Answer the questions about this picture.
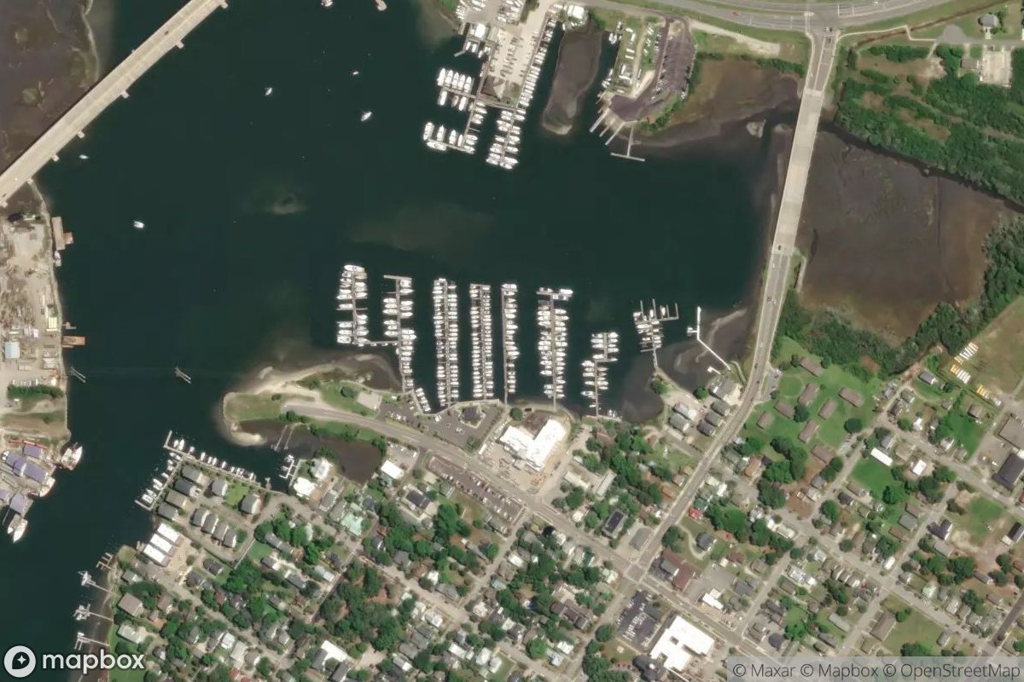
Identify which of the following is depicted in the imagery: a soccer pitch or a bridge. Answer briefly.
bridge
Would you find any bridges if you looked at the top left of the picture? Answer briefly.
Yes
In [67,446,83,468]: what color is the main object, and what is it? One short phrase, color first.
white vessel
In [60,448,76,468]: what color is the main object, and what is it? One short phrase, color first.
white vessel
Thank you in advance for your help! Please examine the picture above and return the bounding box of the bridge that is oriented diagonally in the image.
[0,0,231,207]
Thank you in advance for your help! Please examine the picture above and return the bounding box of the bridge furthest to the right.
[772,86,824,255]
